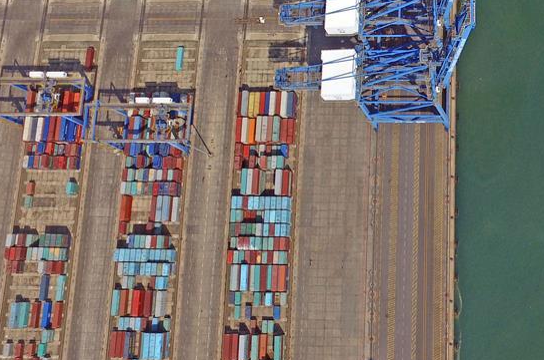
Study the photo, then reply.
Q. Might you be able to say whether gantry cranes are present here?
Yes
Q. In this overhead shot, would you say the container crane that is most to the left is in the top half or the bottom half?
top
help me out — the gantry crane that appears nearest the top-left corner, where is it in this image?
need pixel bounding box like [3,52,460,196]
[0,69,101,130]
